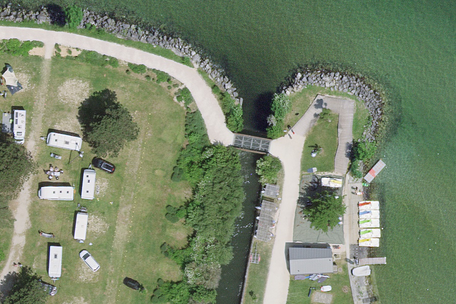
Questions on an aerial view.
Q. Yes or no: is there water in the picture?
Yes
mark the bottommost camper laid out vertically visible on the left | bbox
[48,245,62,282]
